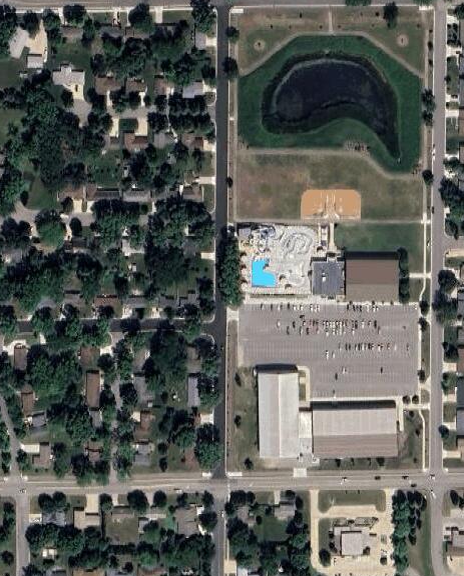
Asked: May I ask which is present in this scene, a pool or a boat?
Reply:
pool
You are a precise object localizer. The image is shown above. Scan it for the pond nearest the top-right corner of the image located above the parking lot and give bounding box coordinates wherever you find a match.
[272,59,399,154]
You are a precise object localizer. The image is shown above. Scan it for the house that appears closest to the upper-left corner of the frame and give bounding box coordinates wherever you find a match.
[11,28,27,54]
